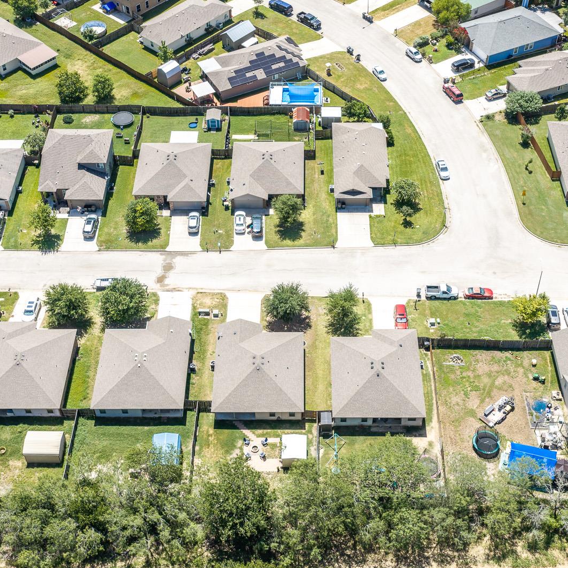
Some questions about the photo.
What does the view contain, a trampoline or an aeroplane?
trampoline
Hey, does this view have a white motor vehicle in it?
Yes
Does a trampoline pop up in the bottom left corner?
No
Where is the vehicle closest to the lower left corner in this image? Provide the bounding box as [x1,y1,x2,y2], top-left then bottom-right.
[23,294,42,321]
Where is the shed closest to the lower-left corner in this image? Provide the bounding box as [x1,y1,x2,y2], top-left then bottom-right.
[17,437,64,475]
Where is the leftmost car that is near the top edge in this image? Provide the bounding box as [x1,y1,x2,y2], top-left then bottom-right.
[268,0,292,13]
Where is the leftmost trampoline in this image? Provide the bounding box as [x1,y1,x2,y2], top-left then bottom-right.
[111,115,133,131]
